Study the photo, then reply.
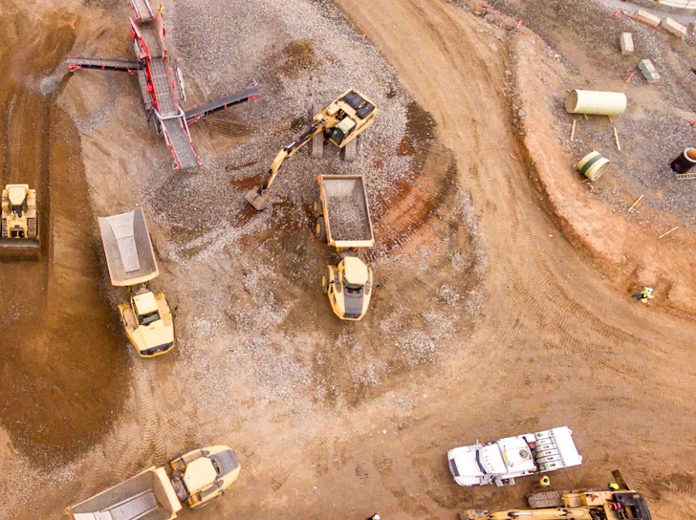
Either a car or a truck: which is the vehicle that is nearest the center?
truck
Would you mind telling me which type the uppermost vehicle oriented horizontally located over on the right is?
truck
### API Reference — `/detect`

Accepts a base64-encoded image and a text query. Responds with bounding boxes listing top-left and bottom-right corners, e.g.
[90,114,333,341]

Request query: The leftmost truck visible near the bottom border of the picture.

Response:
[69,446,235,520]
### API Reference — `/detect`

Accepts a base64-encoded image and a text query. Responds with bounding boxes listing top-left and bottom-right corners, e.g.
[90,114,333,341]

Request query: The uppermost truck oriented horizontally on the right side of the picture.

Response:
[443,429,581,487]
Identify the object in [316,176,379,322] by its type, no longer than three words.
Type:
truck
